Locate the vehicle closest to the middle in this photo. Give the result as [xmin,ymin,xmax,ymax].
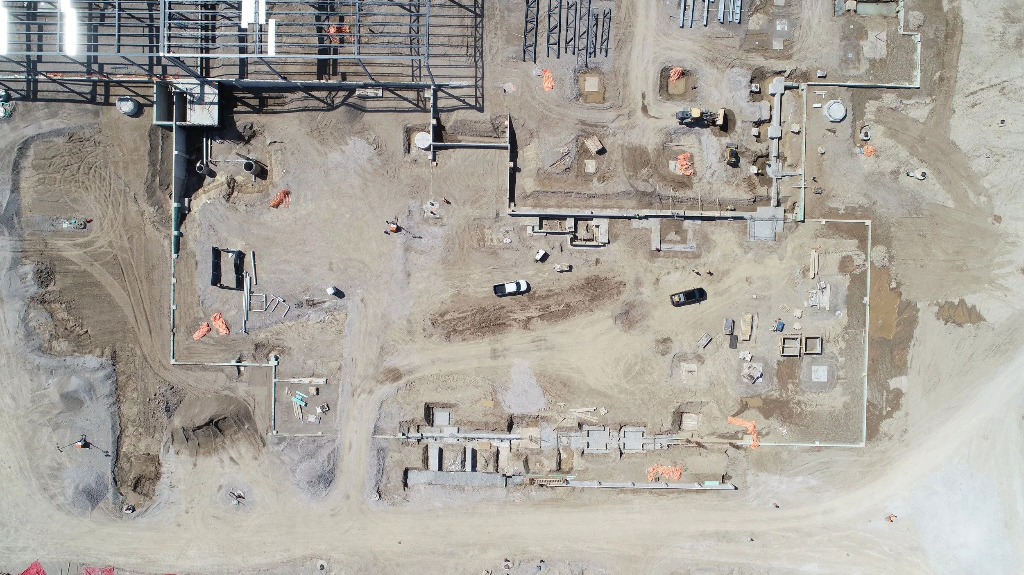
[492,279,527,296]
